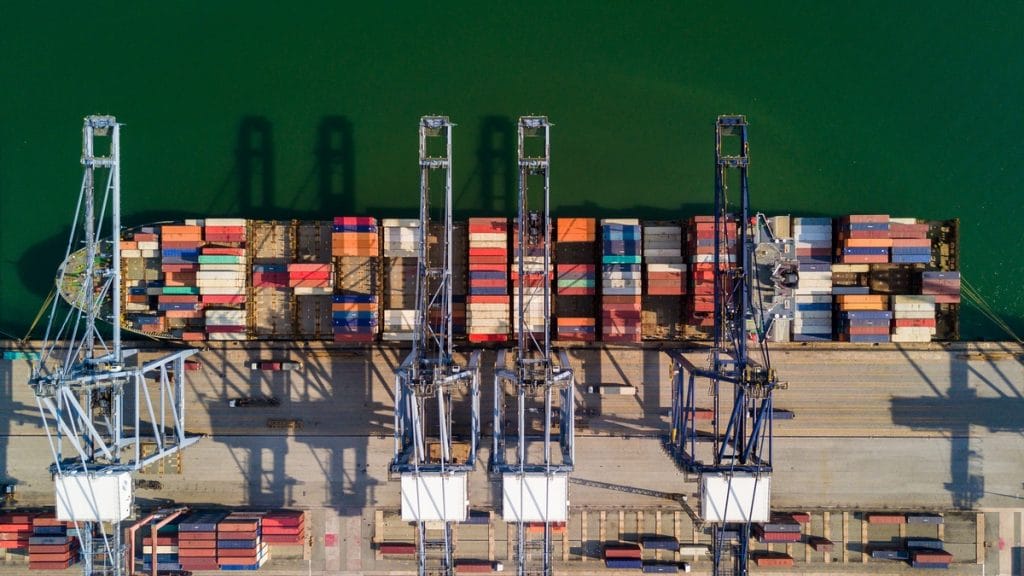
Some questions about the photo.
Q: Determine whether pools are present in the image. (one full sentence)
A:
No, I can see no pool in this picture.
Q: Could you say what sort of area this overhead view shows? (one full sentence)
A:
What you see here is a port.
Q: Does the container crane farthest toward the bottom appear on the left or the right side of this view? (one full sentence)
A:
The container crane farthest toward the bottom is on the left side of the image.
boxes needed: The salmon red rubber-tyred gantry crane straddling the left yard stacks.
[132,512,183,576]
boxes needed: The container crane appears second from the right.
[489,115,575,576]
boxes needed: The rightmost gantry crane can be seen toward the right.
[651,115,780,576]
